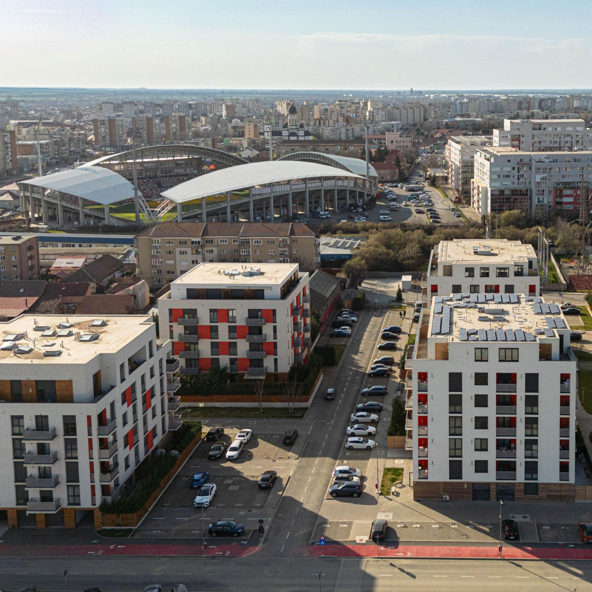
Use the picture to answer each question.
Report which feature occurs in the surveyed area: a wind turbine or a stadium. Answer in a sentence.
This aerial view contains a stadium.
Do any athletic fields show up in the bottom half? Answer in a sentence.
No, no athletic field appears in the bottom half.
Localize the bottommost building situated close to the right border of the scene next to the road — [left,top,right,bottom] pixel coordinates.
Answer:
[400,294,580,502]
